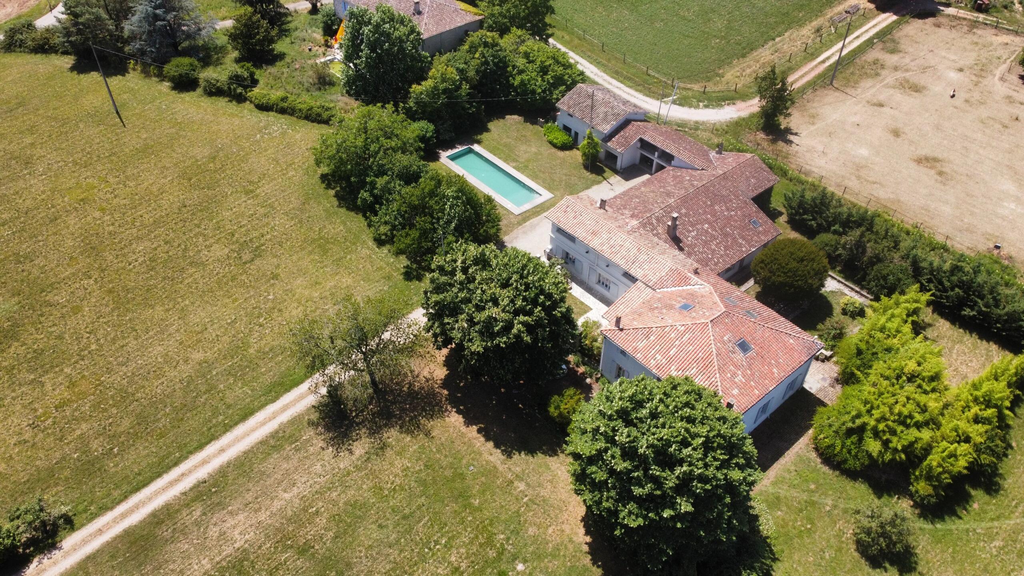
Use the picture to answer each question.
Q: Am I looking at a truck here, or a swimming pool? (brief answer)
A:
swimming pool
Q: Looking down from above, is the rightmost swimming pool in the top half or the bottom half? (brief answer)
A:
top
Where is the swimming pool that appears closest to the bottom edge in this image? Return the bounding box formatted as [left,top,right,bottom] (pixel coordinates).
[434,140,555,215]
